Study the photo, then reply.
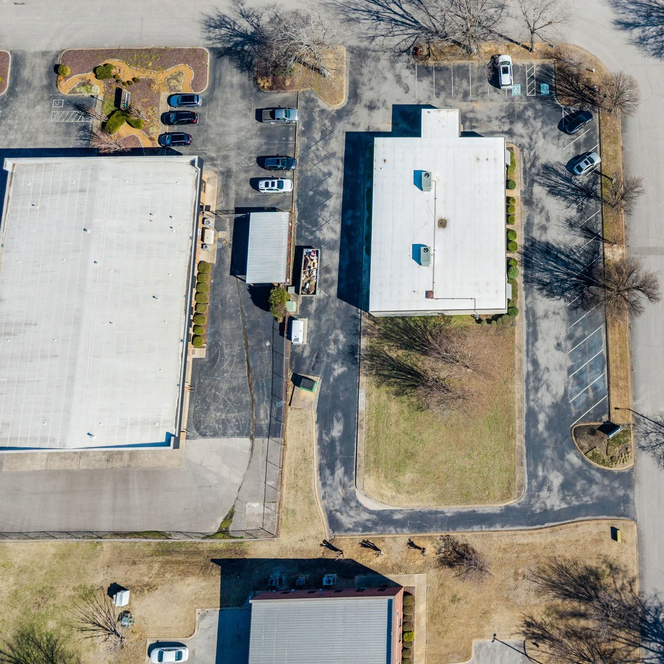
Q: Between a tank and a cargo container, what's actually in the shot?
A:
cargo container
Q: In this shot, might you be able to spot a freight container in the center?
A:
Yes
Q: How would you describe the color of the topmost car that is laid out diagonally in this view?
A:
black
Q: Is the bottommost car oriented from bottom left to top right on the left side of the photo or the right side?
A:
right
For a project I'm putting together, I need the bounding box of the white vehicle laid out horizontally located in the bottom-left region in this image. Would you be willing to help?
[151,645,190,664]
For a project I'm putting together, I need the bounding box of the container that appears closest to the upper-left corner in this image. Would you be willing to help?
[299,248,325,298]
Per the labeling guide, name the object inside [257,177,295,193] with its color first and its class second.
white car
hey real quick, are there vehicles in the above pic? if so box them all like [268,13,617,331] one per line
[158,131,193,147]
[261,106,300,123]
[564,111,594,136]
[163,110,198,126]
[264,155,298,171]
[168,92,203,109]
[151,645,190,664]
[498,57,513,89]
[572,153,601,177]
[257,177,295,193]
